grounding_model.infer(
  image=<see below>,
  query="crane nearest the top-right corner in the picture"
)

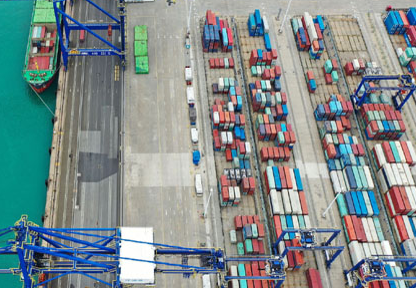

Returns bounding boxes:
[350,73,416,113]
